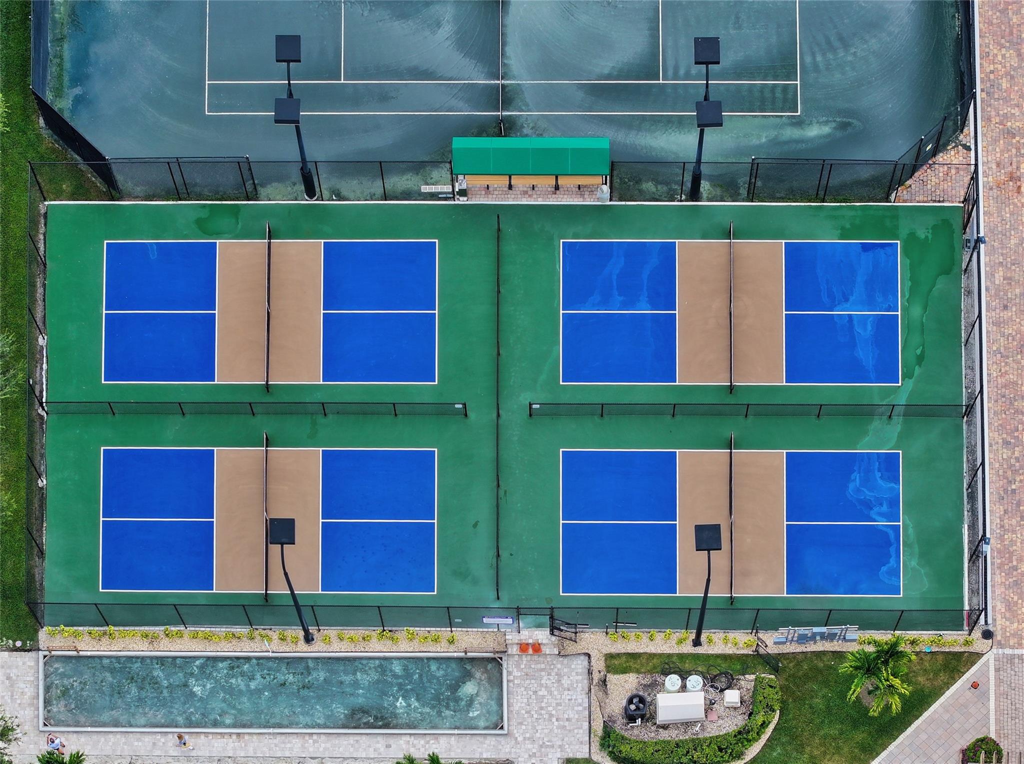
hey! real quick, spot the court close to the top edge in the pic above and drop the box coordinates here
[48,0,962,202]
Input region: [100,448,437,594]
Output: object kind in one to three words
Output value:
sports court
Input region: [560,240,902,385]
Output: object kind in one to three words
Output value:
sports court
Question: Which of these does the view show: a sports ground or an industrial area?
sports ground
